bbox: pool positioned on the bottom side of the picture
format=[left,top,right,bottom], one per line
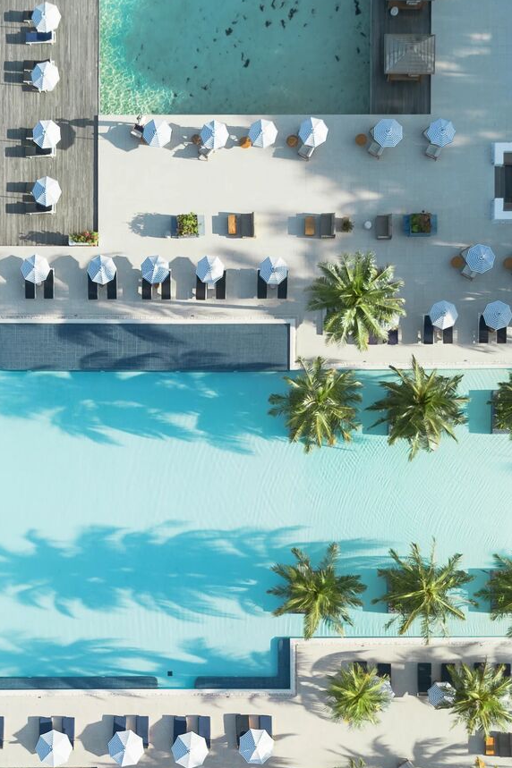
[0,325,512,689]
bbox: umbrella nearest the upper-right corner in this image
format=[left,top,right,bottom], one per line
[426,119,455,148]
